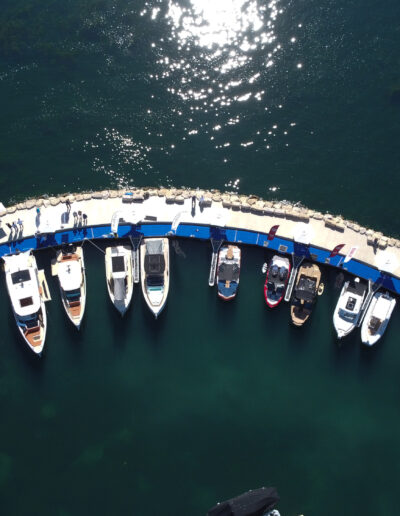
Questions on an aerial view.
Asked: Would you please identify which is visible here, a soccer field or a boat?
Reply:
boat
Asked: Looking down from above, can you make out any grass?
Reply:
No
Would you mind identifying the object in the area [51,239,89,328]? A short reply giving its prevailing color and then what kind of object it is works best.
white boat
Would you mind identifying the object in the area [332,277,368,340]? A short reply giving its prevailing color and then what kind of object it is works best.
white boat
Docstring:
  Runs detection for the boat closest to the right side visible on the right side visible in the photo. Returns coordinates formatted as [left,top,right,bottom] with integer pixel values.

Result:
[361,290,397,347]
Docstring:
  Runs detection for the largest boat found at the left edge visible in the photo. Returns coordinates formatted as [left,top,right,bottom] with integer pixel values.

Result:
[3,250,47,356]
